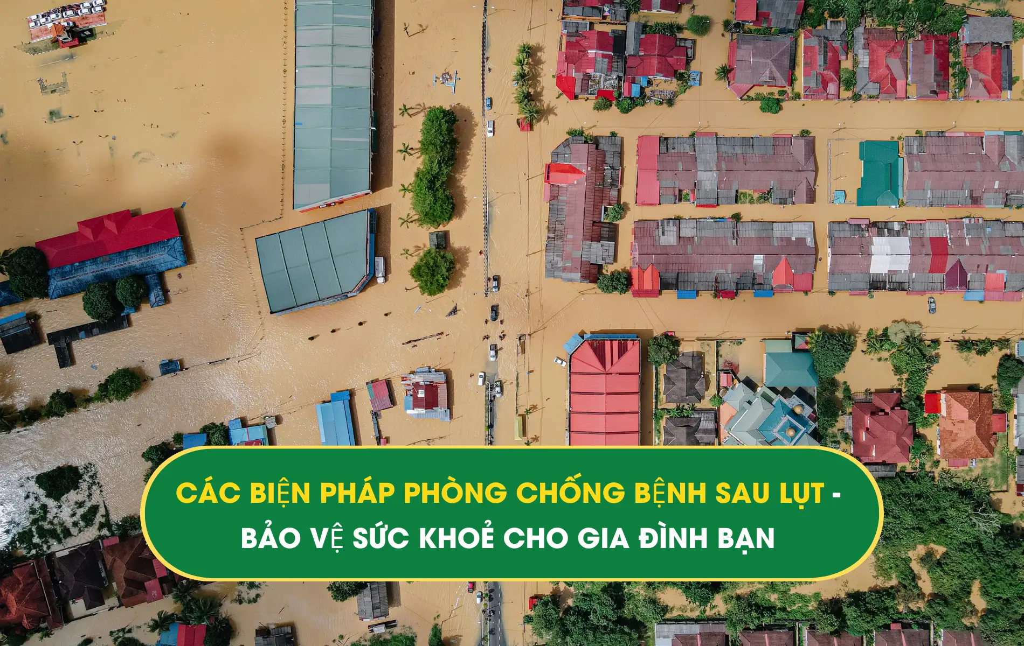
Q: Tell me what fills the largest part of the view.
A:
water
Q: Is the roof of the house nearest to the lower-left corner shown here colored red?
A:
Yes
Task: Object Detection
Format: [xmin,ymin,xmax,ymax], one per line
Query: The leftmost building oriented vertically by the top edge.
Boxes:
[293,0,377,212]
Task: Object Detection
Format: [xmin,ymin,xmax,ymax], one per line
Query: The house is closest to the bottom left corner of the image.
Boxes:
[0,555,69,629]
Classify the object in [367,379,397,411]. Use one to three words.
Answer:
shed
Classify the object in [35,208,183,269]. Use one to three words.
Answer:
building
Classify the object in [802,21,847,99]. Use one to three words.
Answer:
house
